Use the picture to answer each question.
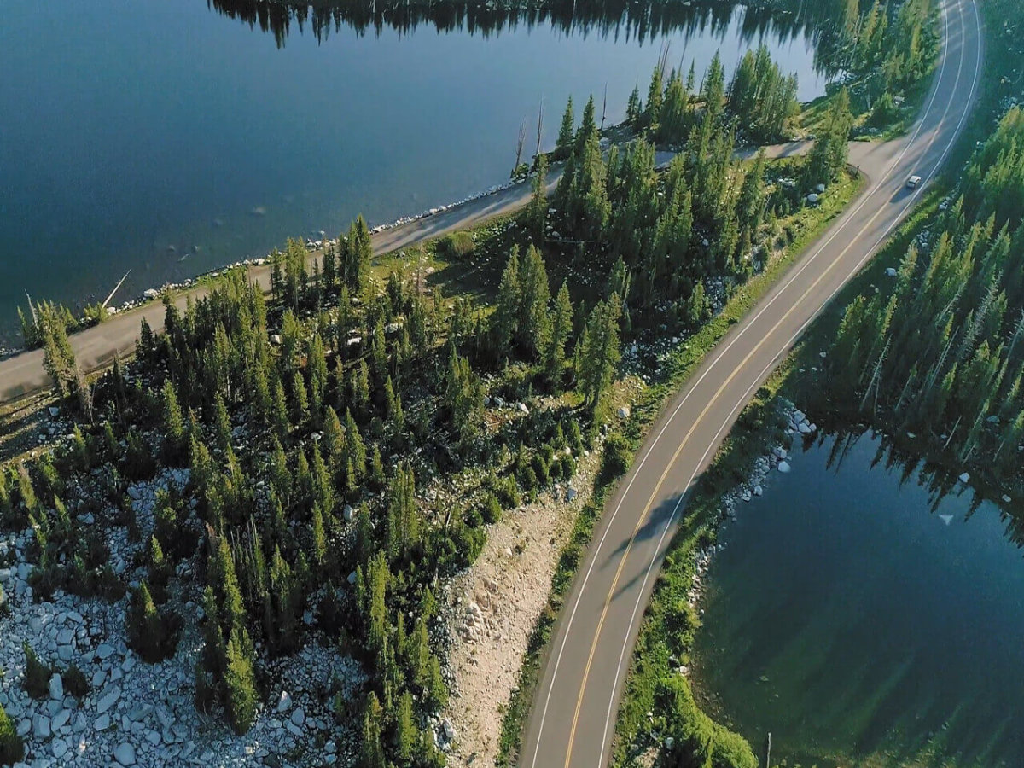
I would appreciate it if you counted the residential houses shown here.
none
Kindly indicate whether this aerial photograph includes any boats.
No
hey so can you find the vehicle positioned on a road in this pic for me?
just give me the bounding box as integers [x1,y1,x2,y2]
[905,176,920,189]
